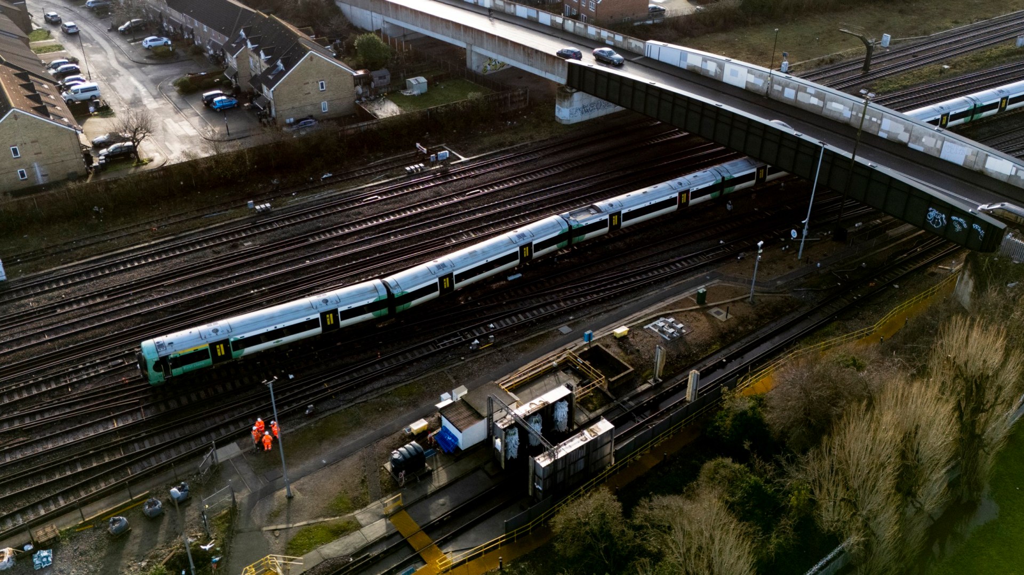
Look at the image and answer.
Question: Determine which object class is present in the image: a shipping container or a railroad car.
railroad car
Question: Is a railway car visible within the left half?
Yes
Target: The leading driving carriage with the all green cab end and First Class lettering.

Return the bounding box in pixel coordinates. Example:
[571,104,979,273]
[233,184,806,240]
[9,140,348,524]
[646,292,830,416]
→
[135,274,388,384]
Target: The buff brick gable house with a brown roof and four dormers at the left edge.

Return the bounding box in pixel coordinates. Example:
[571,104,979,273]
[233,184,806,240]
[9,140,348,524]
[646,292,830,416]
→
[0,61,87,190]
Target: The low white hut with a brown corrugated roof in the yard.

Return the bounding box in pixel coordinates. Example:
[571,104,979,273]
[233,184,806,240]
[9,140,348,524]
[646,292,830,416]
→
[439,398,485,447]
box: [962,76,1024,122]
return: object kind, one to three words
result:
rail car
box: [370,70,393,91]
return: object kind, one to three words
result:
shed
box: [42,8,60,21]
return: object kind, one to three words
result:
vehicle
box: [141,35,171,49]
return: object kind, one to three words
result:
car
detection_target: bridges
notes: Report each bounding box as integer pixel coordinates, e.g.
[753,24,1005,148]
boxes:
[307,0,1024,302]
